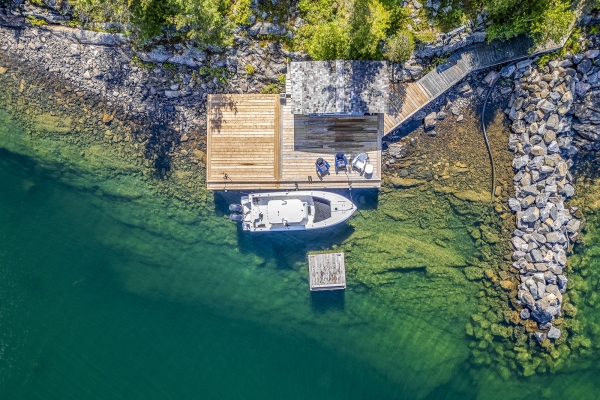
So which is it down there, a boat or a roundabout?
boat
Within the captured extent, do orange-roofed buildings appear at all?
No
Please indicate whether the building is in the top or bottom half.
top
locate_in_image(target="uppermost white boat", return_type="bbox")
[229,190,360,231]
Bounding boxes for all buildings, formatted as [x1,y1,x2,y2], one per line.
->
[289,57,389,119]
